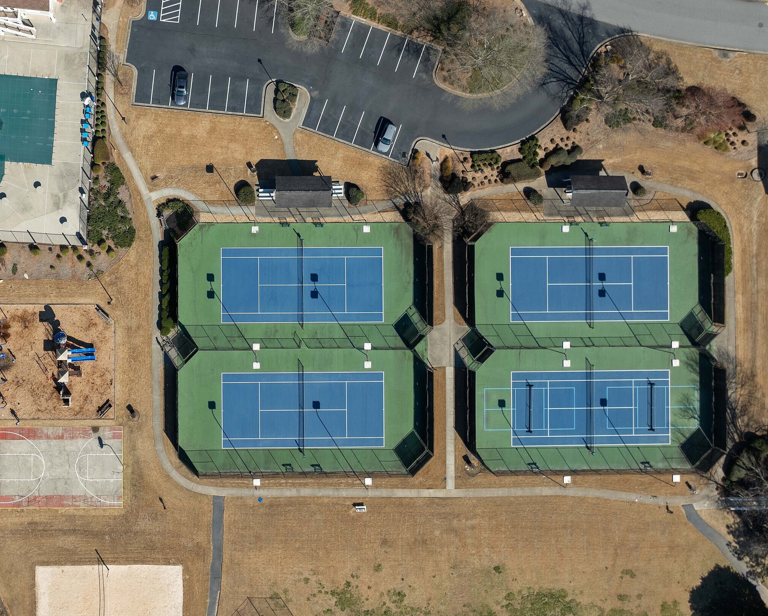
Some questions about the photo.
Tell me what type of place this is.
sports ground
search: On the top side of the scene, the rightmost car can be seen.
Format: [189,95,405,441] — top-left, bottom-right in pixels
[377,121,398,154]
